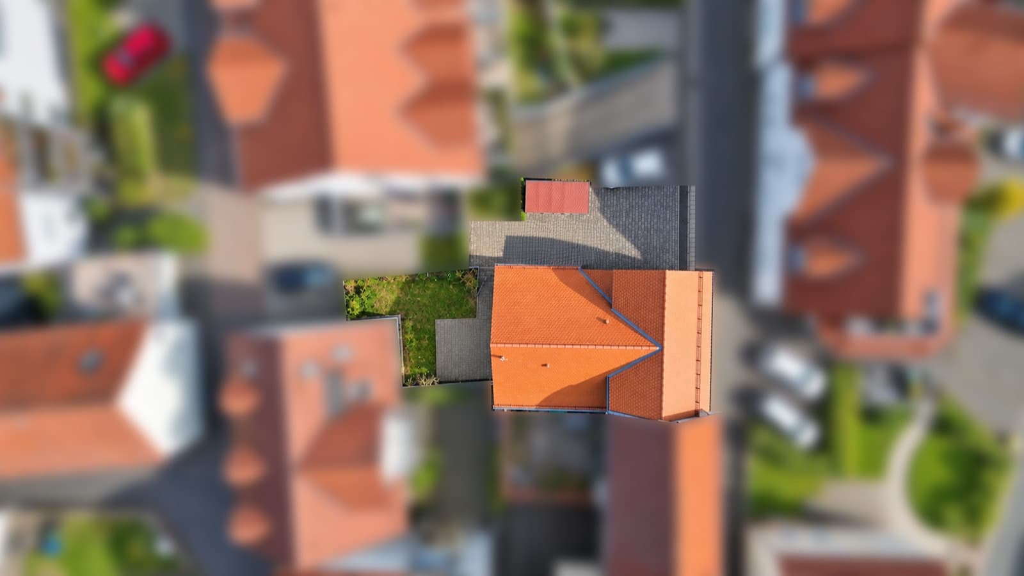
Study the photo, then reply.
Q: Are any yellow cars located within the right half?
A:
No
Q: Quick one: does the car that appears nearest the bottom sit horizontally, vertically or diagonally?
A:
diagonally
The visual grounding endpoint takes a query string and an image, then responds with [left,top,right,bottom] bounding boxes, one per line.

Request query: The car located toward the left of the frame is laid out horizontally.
[268,262,338,296]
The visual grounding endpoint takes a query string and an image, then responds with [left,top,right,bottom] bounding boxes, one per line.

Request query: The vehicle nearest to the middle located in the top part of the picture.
[597,154,667,189]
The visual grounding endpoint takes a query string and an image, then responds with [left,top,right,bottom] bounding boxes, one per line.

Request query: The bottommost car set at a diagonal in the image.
[753,392,820,451]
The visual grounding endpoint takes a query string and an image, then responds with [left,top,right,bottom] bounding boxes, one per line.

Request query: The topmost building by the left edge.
[0,0,67,116]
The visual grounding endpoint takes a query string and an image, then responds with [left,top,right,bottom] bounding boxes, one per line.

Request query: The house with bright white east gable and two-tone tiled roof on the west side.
[0,316,201,480]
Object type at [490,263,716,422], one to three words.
house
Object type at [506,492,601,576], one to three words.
building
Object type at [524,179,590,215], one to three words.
shed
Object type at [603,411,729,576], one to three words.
house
